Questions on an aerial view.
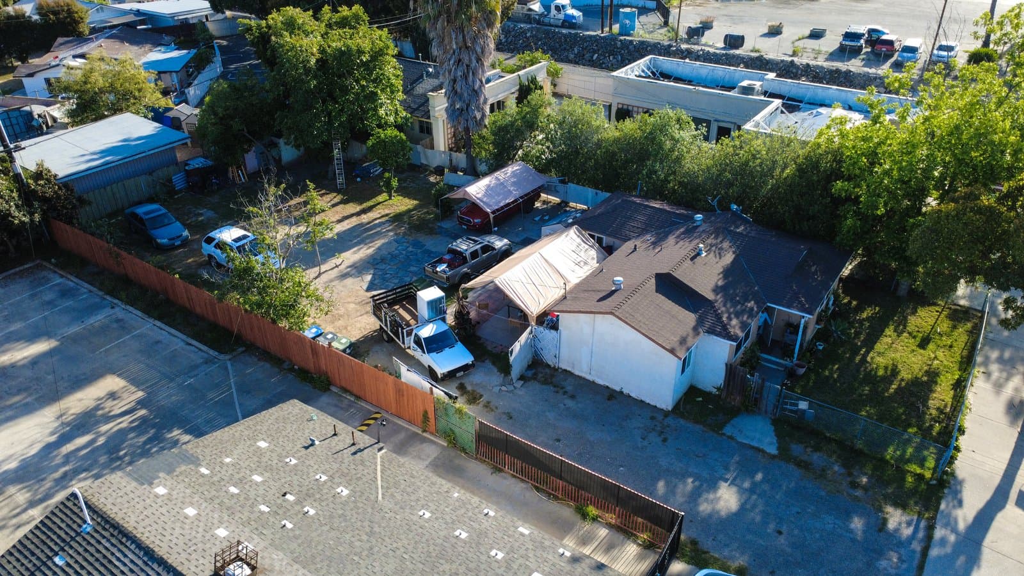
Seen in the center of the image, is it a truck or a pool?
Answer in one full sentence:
The feature located in the center of the image is a truck.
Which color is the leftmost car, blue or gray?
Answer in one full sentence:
The color of the leftmost car is blue.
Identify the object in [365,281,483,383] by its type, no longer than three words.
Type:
truck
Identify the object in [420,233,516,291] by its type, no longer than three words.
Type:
truck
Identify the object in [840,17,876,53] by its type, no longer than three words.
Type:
car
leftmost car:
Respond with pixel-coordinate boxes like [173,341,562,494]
[117,203,191,250]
